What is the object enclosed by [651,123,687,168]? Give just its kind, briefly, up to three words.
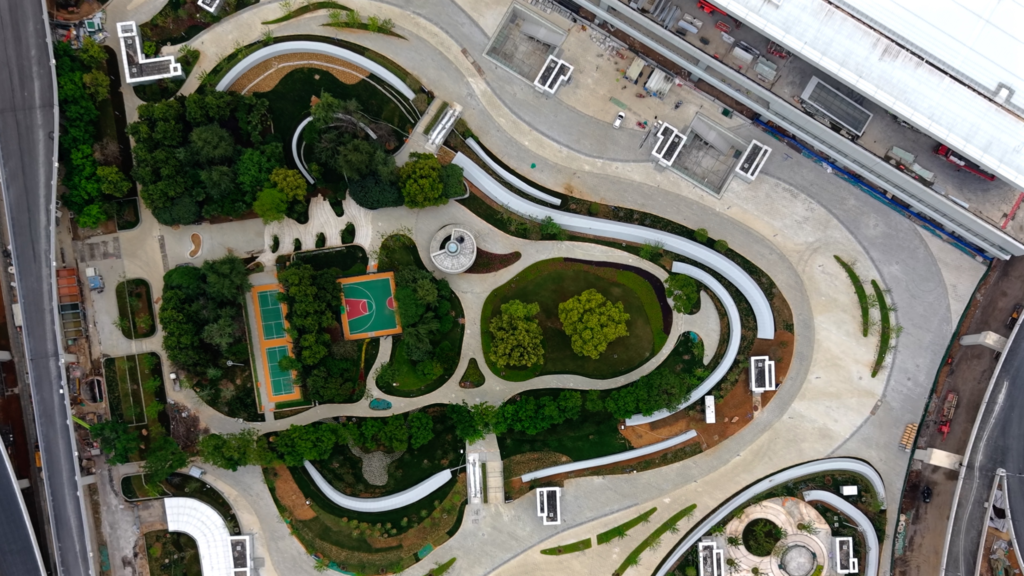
building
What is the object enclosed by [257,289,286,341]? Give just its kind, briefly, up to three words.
sports court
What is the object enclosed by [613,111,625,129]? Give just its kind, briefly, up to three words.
vehicle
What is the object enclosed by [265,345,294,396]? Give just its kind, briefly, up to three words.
sports court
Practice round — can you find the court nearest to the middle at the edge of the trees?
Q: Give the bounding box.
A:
[337,271,398,340]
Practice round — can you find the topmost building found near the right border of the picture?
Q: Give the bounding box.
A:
[703,0,1024,195]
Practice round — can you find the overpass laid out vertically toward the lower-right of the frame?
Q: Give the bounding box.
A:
[909,302,1024,576]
